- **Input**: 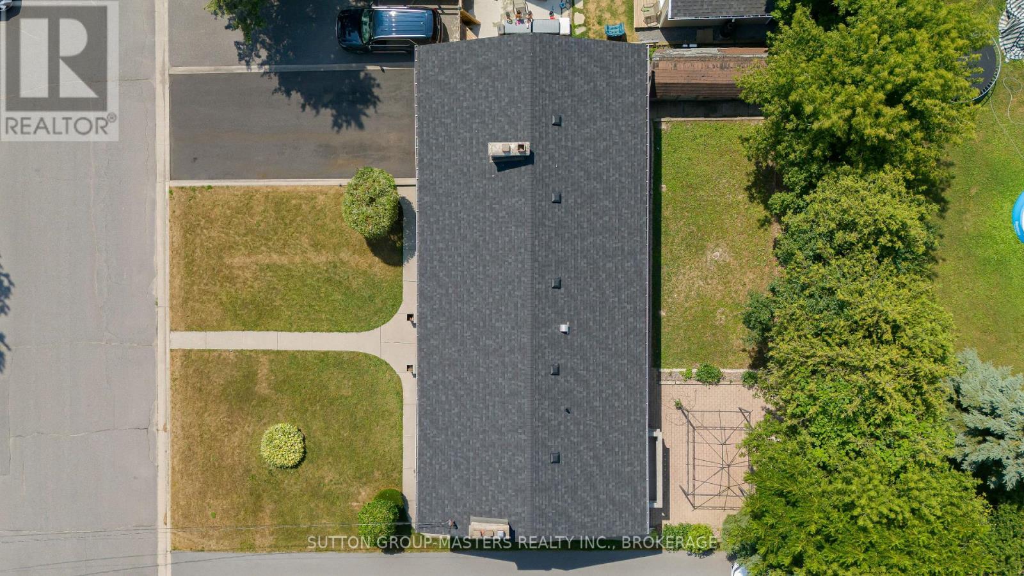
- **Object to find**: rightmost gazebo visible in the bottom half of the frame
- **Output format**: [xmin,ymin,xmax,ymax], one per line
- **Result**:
[677,403,751,497]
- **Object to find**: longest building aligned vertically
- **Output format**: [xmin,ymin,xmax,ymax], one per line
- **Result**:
[415,33,648,545]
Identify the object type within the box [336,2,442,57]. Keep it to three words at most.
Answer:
car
